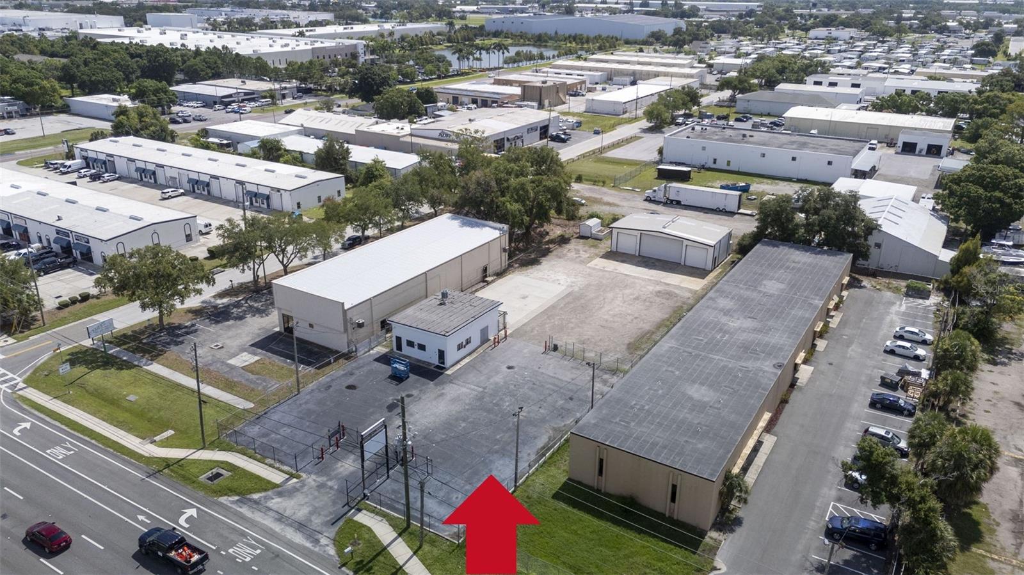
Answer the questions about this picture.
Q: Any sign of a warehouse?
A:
Yes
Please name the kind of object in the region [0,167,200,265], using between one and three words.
building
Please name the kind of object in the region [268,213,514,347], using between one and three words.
warehouse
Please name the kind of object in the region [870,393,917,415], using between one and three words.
car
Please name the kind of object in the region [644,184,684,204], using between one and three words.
vehicle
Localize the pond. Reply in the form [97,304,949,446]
[437,45,608,70]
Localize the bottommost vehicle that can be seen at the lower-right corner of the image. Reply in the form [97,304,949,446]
[825,514,893,551]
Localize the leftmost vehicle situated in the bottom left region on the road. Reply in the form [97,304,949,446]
[24,522,73,555]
